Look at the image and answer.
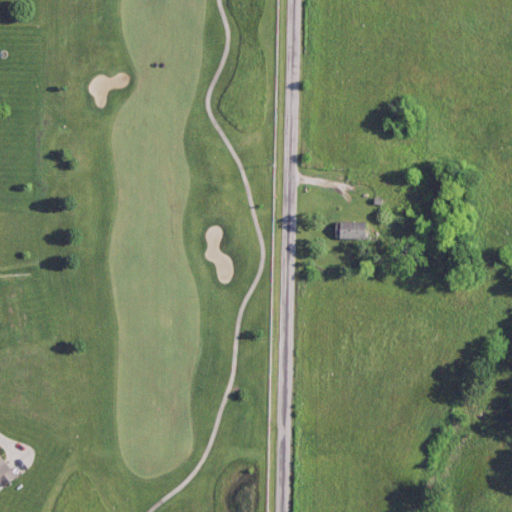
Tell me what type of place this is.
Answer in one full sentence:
This image shows a golf course.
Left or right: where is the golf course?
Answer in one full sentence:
You can find the golf course on the left side of the picture.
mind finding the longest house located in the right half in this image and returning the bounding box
[336,222,370,240]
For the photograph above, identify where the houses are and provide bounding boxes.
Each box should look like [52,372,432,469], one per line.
[0,460,18,490]
[336,222,370,240]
